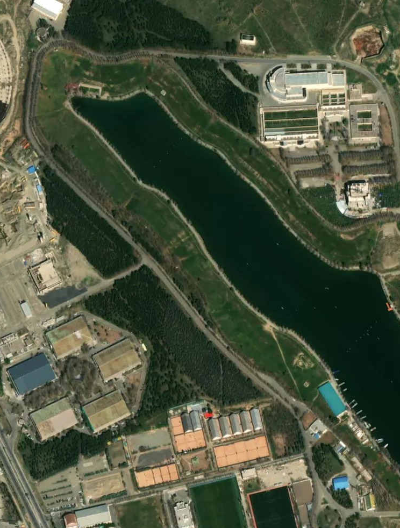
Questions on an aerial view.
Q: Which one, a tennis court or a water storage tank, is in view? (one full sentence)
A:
Looking from above, you can make out a tennis court.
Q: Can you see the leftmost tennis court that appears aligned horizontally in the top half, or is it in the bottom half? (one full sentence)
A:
You can find the leftmost tennis court that appears aligned horizontally in the bottom half.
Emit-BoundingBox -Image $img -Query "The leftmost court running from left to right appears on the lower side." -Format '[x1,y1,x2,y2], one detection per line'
[135,463,180,488]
